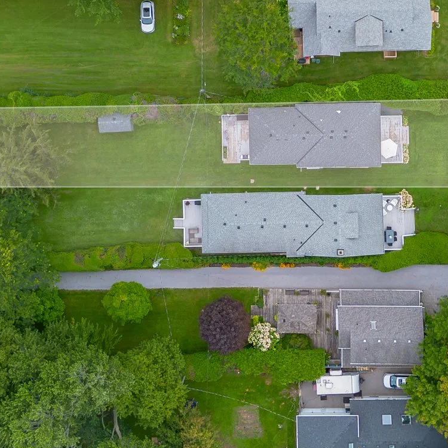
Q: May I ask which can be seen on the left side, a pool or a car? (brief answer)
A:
car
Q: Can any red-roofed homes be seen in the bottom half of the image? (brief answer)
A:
No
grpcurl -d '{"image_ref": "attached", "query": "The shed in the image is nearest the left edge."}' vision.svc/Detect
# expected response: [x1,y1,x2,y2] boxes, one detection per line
[98,114,135,133]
